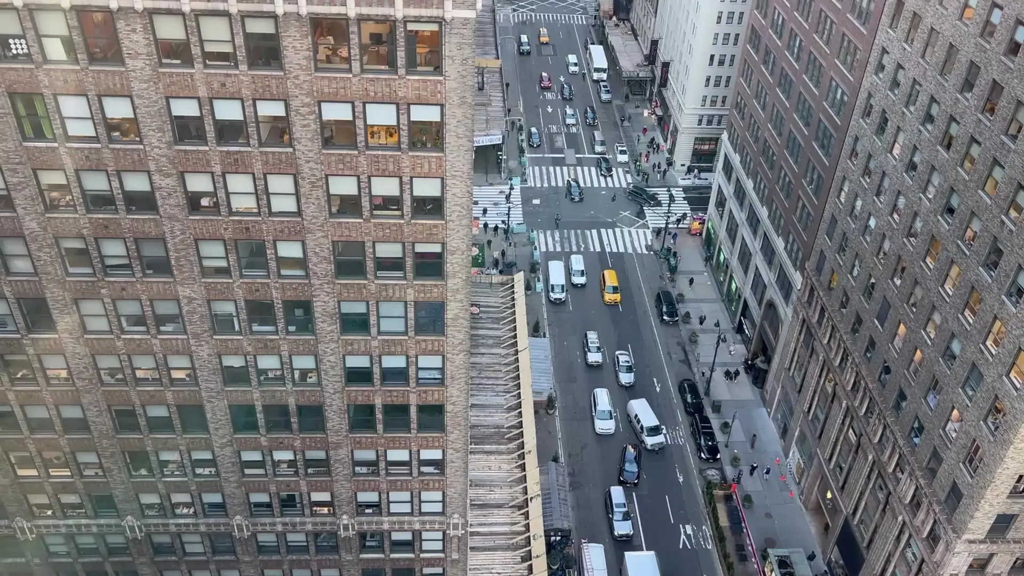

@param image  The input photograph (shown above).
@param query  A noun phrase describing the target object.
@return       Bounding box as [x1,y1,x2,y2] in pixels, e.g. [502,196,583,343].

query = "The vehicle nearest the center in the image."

[545,257,567,302]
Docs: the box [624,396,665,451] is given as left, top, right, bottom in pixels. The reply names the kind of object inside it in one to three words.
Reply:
van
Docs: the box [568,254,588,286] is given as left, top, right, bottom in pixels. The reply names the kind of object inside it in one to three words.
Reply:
vehicle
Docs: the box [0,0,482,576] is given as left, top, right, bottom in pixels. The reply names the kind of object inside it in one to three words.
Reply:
building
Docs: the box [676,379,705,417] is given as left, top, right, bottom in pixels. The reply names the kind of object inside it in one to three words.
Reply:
car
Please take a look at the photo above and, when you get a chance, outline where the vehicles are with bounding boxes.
[582,330,604,365]
[676,379,705,417]
[607,486,637,540]
[623,182,661,206]
[655,289,680,324]
[689,415,721,461]
[583,106,598,125]
[545,257,567,302]
[610,350,634,387]
[587,45,610,84]
[597,84,612,102]
[617,443,642,487]
[613,143,629,163]
[539,74,552,89]
[595,156,614,177]
[559,84,574,100]
[590,392,616,435]
[568,254,588,286]
[621,551,660,576]
[564,177,583,202]
[579,37,592,51]
[566,56,580,74]
[600,271,620,305]
[562,108,577,126]
[538,29,550,44]
[527,128,542,147]
[519,38,531,55]
[624,396,665,451]
[590,131,607,154]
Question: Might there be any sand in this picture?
No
